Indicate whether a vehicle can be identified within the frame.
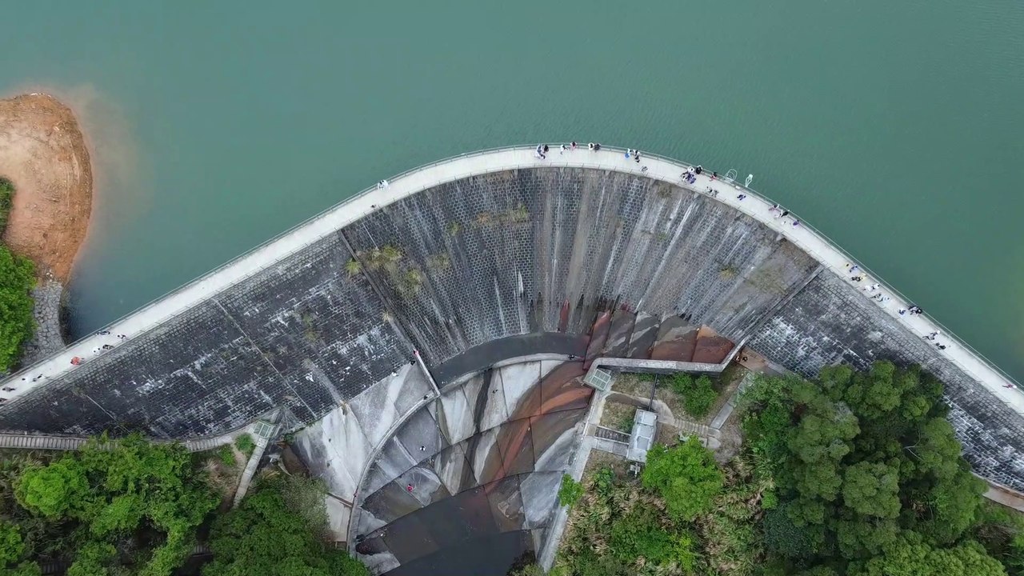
No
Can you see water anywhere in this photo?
Yes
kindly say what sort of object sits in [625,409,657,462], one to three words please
shed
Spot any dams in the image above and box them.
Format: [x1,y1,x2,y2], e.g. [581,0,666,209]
[0,144,1024,492]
